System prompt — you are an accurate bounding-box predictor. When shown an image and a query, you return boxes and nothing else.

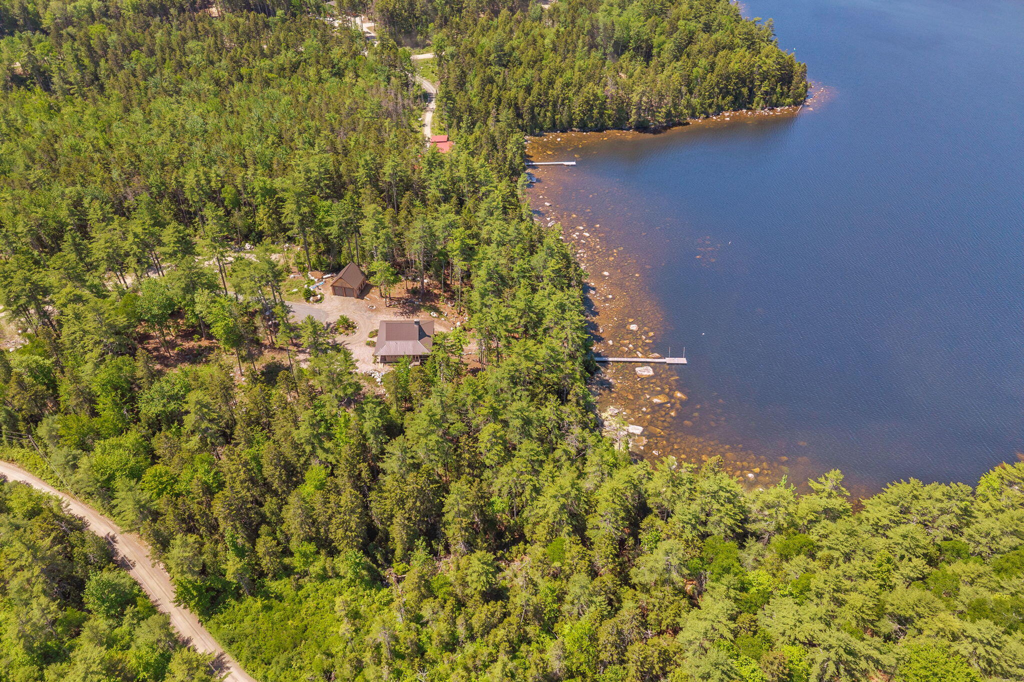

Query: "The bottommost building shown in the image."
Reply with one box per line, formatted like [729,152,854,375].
[373,317,437,370]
